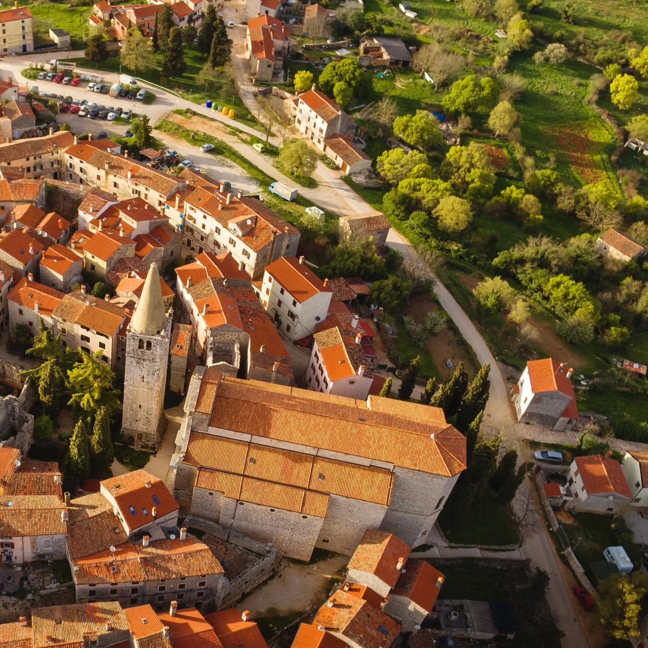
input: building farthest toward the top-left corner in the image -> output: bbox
[0,0,33,58]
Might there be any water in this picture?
No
